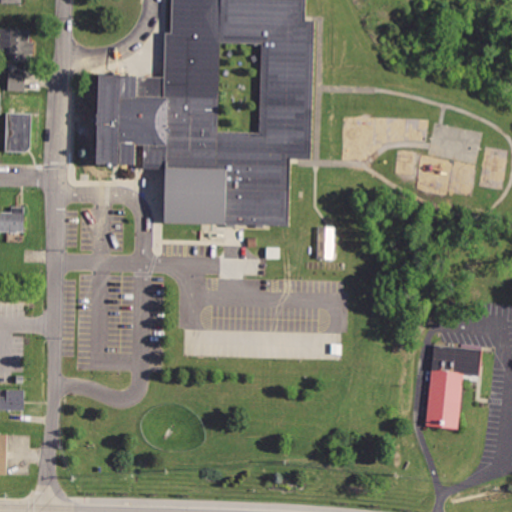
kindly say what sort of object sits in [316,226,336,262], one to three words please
shed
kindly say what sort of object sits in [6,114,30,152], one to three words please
house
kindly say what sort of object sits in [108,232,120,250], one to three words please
vehicle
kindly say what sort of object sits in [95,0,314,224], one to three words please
building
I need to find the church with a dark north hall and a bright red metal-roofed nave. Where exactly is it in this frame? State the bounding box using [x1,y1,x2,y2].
[428,344,482,430]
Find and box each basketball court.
[429,123,482,165]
